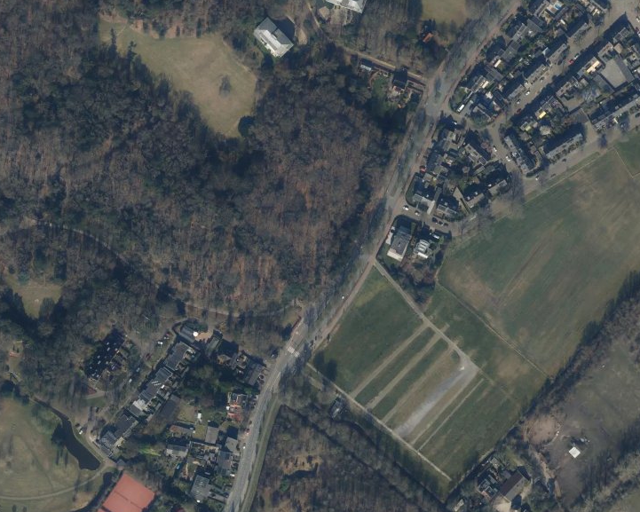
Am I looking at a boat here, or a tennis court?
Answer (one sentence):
Of the two, only a tennis court appears.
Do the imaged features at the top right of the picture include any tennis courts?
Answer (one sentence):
No, looking at the top right of the picture, there is no tennis court.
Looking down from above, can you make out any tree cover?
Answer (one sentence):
Yes, tree cover can be seen from above here.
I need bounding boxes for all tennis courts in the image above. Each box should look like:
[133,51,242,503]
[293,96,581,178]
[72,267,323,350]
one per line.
[104,491,144,512]
[114,473,155,509]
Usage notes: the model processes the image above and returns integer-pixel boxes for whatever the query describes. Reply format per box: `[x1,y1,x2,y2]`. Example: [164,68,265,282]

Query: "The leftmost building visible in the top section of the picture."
[253,18,294,58]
